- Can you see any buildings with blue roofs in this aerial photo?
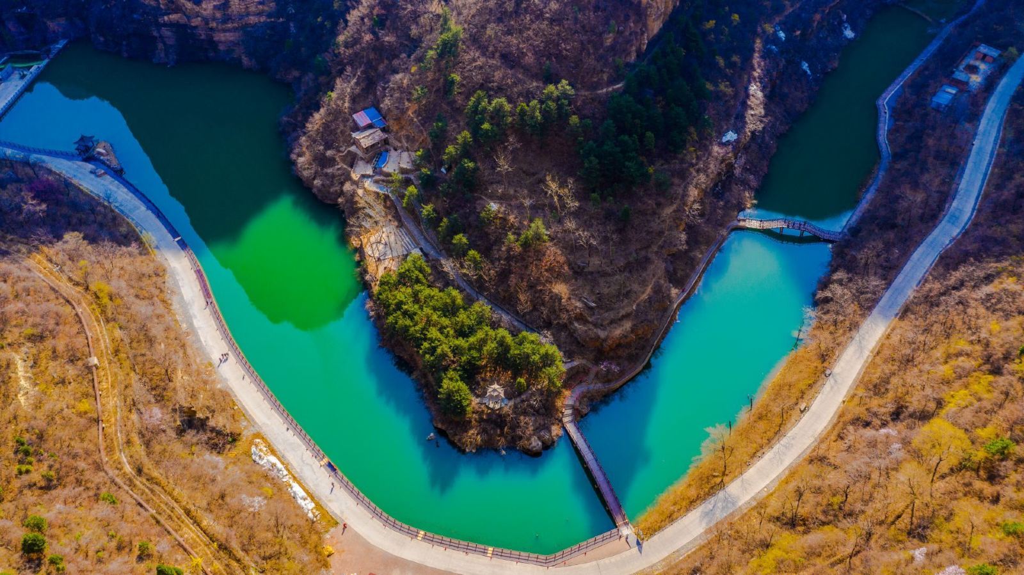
Yes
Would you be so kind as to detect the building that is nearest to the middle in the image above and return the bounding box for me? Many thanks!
[482,382,508,413]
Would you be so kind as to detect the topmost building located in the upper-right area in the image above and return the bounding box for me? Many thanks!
[972,44,1001,67]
